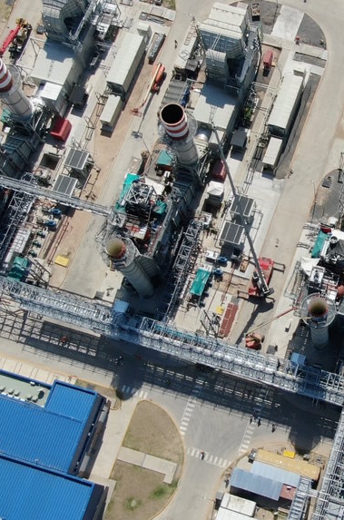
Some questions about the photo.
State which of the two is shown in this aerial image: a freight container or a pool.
freight container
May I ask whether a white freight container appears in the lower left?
No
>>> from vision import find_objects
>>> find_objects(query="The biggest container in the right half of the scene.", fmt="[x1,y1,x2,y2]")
[264,64,310,139]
